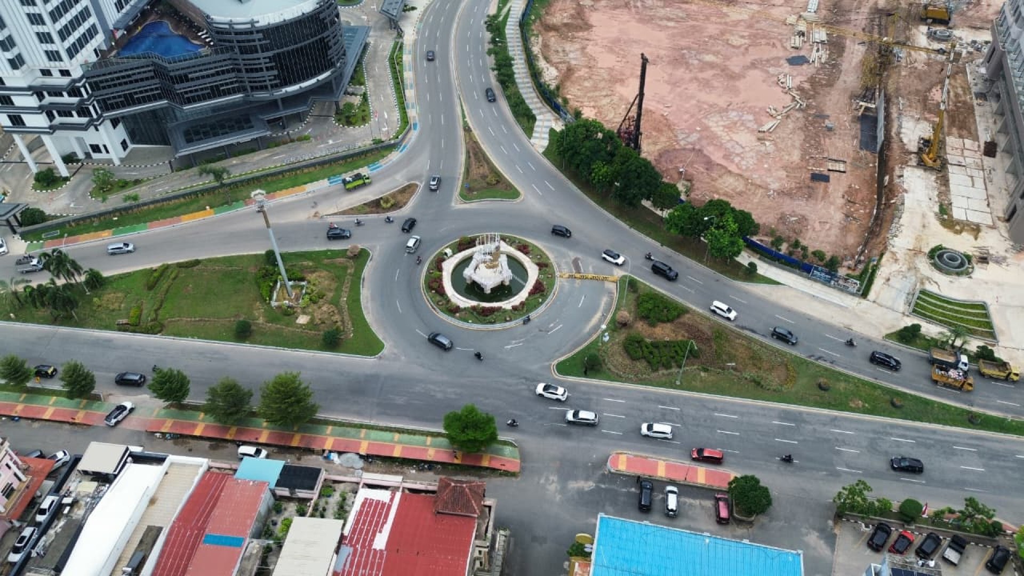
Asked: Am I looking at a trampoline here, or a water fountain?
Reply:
water fountain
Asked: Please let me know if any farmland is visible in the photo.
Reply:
No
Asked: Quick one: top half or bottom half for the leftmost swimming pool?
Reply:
top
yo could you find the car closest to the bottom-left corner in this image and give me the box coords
[3,523,42,566]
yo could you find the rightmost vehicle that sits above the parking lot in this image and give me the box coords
[975,357,1024,386]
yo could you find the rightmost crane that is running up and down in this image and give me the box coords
[907,43,959,169]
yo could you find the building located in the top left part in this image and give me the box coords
[0,0,373,177]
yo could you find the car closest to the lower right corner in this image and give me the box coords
[980,542,1011,576]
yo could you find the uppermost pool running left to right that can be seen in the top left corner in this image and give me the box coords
[118,20,207,58]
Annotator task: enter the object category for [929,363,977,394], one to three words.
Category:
truck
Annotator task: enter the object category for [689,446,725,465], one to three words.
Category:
car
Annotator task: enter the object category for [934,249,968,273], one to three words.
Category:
fountain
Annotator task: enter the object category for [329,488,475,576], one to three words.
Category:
house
